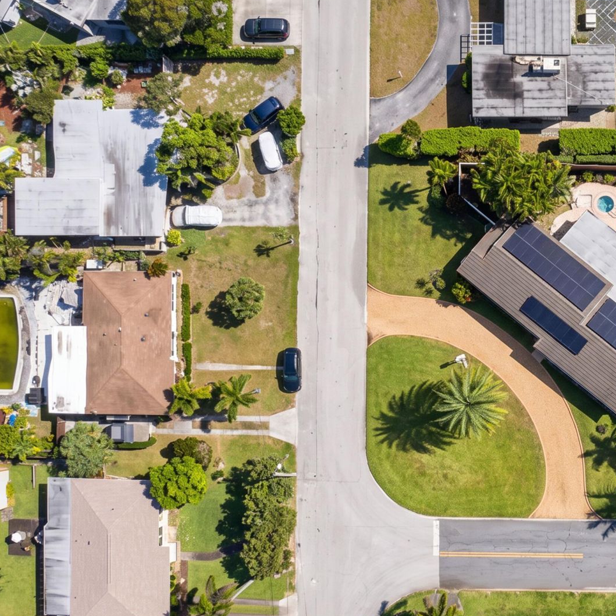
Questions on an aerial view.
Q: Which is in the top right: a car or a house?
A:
house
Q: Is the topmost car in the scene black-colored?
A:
Yes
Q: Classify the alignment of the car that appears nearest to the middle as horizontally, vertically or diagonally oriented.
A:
vertically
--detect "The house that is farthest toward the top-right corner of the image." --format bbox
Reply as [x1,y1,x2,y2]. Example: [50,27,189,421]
[471,0,615,119]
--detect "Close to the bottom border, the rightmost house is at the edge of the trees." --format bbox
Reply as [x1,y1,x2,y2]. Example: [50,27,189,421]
[45,474,189,616]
